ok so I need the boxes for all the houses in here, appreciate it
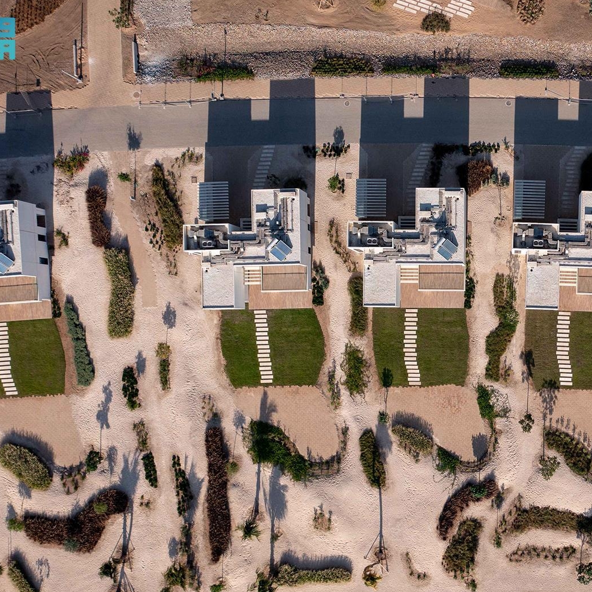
[183,189,314,310]
[348,188,466,308]
[511,192,592,312]
[0,200,54,322]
